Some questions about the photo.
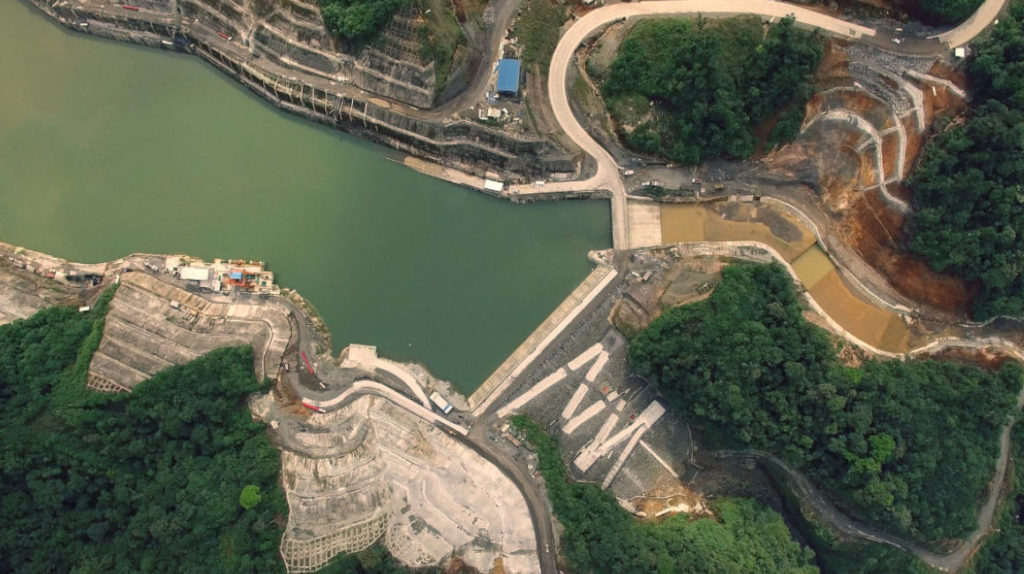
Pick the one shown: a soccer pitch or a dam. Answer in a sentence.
I can see a dam in this picture.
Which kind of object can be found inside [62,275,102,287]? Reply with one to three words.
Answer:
building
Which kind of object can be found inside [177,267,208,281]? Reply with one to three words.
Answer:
shed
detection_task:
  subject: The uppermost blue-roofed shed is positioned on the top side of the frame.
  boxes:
[496,58,521,97]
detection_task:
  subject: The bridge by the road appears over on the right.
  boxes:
[611,193,630,250]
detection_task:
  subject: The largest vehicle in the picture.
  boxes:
[428,390,452,416]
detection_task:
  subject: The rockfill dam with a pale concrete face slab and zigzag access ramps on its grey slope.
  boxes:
[469,267,691,501]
